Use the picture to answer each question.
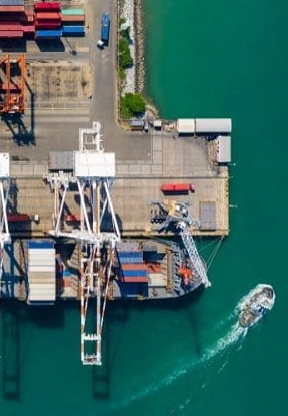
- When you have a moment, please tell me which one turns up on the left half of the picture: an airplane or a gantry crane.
gantry crane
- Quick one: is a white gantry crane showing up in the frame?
Yes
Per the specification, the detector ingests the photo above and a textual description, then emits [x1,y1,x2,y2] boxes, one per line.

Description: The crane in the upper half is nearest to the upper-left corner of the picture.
[0,56,26,117]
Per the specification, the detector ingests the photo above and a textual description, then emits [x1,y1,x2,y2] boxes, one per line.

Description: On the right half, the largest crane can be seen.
[151,202,209,288]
